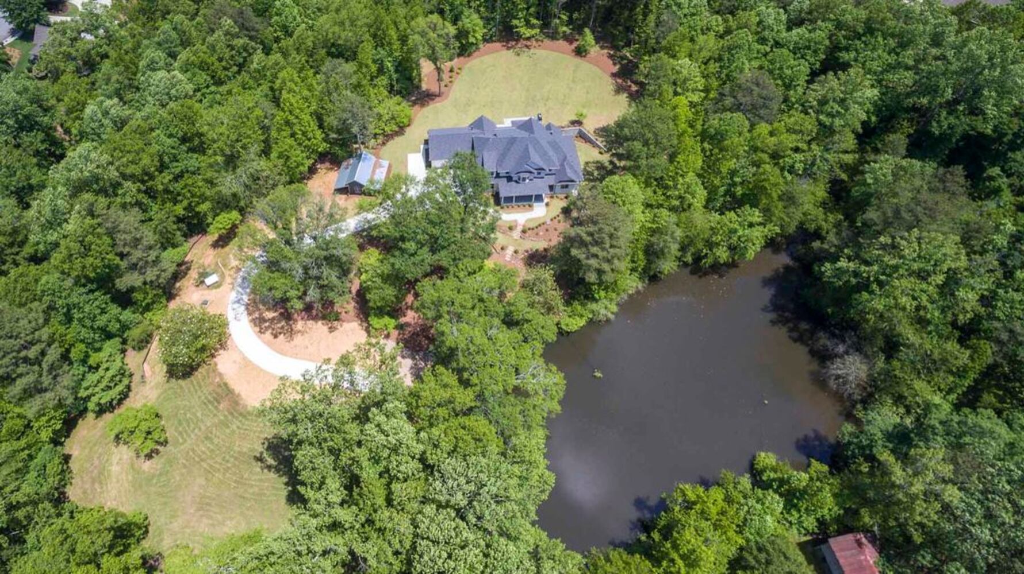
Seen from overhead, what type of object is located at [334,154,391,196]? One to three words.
shed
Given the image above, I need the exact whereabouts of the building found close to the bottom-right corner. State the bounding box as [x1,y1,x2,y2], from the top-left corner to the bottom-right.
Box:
[815,528,900,574]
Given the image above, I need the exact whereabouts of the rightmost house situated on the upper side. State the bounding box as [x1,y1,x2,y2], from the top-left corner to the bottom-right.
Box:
[428,109,582,207]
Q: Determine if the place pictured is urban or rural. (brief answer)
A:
rural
